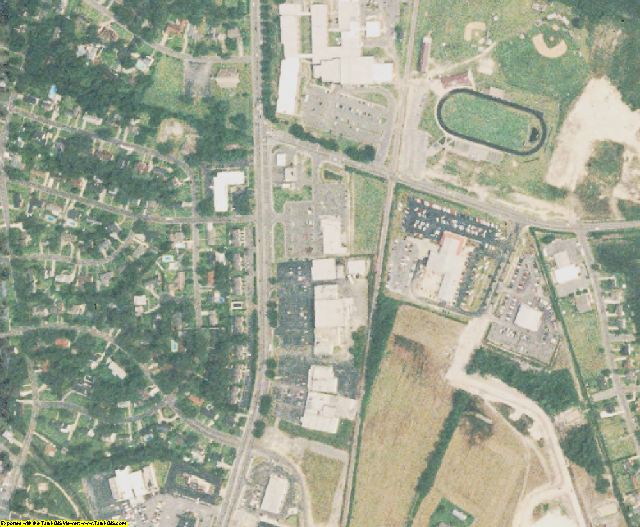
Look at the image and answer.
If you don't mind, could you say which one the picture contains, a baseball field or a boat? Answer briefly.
baseball field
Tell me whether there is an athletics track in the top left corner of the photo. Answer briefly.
No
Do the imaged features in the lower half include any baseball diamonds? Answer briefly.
No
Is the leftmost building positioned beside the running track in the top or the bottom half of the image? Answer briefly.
top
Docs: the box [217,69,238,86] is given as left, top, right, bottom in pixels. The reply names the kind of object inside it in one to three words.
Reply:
building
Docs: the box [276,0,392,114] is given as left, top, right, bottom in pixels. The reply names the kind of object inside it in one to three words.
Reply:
building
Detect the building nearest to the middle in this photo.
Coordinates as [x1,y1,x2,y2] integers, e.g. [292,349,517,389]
[311,259,336,279]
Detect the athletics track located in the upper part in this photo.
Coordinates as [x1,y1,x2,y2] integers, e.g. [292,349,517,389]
[435,87,548,156]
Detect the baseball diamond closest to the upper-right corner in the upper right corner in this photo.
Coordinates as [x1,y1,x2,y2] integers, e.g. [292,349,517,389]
[497,23,590,104]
